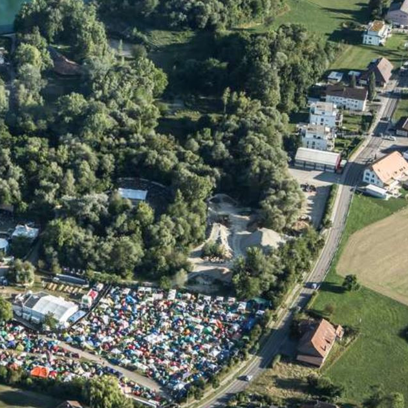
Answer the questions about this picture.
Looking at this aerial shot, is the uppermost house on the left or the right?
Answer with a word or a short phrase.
right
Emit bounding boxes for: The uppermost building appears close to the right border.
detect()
[380,0,408,29]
